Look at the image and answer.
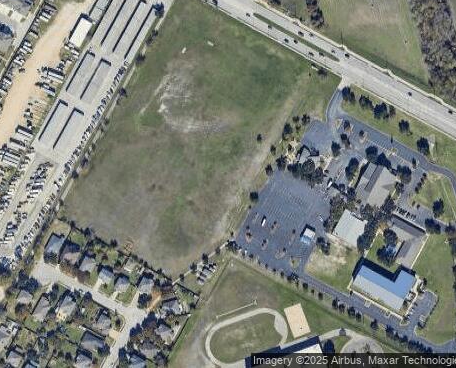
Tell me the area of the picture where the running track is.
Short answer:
bottom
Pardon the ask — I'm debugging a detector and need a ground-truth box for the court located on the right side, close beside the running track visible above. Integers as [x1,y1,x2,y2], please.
[284,305,310,338]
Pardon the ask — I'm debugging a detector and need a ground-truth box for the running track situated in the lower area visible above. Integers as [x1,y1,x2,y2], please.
[208,310,284,368]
